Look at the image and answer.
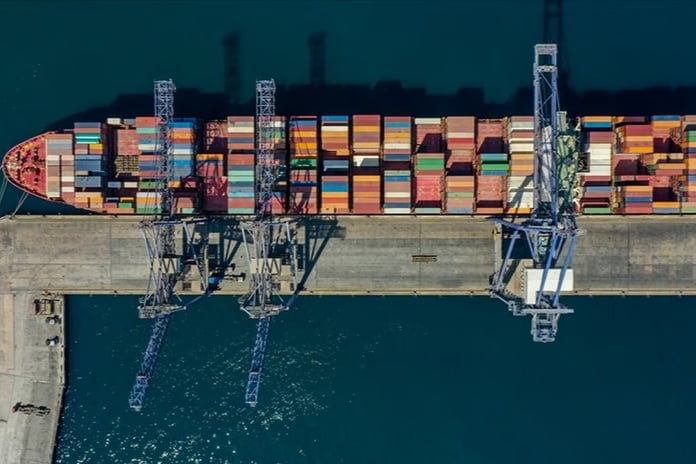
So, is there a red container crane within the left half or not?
No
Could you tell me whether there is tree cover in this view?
No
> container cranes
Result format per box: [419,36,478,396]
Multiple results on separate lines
[488,43,578,344]
[129,75,217,410]
[237,75,301,410]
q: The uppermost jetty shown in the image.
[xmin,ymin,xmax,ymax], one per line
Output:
[28,215,696,297]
